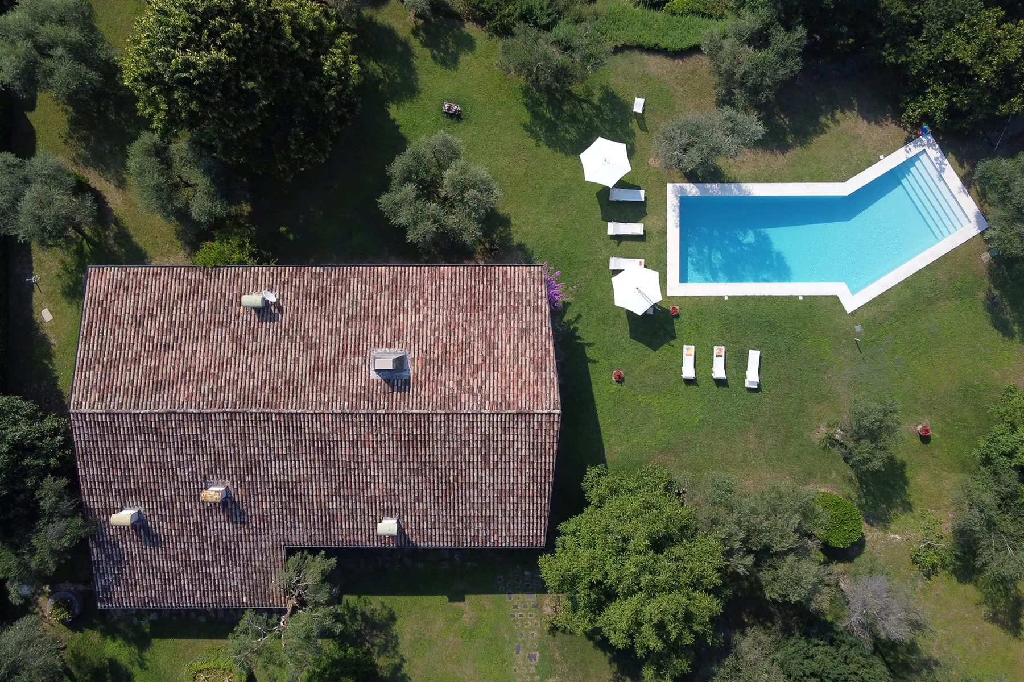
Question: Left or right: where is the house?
left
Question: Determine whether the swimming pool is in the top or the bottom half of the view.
top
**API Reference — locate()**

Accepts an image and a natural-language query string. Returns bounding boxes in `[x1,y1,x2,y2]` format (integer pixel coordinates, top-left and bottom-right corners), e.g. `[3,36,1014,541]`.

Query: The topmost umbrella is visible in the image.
[579,136,632,187]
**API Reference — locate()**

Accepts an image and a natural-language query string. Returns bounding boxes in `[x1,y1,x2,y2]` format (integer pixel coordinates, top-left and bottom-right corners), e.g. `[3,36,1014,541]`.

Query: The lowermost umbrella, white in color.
[611,264,662,318]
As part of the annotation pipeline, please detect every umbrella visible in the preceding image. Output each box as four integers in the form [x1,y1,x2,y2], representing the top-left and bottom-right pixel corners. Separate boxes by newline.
[611,264,662,318]
[579,136,632,187]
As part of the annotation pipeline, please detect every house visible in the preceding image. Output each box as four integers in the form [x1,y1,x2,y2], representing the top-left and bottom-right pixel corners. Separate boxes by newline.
[68,263,561,611]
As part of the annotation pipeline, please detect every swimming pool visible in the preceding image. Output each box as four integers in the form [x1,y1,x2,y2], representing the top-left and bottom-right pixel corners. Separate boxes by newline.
[667,134,989,314]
